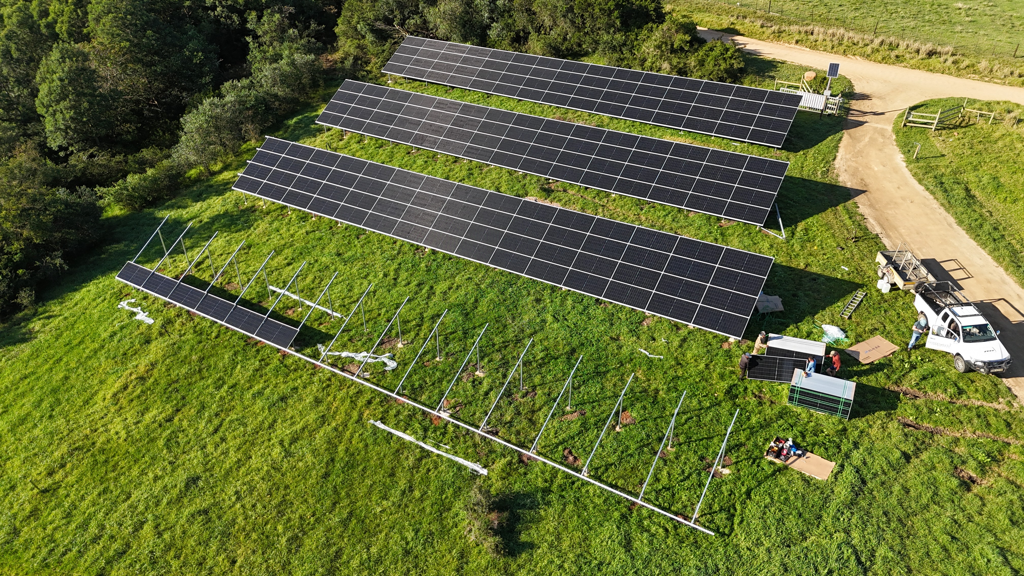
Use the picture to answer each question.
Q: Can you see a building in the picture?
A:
No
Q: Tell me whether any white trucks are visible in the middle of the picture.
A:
No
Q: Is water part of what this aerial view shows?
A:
No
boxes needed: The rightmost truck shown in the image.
[910,282,1013,377]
